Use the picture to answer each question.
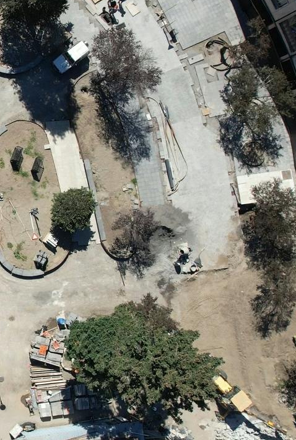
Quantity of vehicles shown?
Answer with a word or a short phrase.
2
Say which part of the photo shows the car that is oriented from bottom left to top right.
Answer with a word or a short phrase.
top left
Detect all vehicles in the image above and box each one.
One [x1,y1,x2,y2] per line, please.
[203,356,291,438]
[55,36,96,72]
